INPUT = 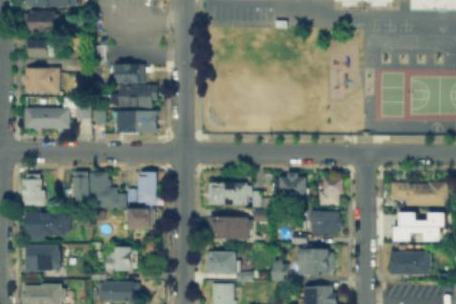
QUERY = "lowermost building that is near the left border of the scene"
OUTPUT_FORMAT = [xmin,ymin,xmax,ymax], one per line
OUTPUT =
[20,284,66,304]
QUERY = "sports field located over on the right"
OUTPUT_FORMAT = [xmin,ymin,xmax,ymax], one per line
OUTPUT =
[202,27,366,132]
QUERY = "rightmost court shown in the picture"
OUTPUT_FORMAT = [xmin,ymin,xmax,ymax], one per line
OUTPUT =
[376,70,456,120]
